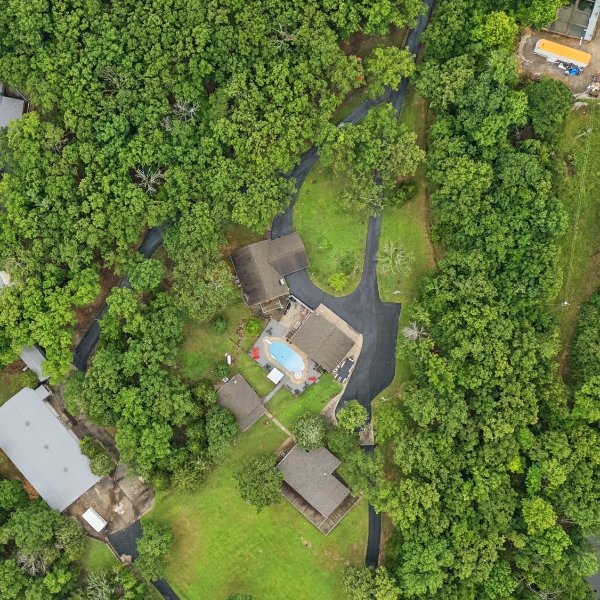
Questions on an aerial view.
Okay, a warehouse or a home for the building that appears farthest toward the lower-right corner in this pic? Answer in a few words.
home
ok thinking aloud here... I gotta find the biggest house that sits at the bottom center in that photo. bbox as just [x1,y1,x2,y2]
[278,445,361,535]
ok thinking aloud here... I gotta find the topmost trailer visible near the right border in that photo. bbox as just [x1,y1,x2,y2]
[534,38,591,66]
